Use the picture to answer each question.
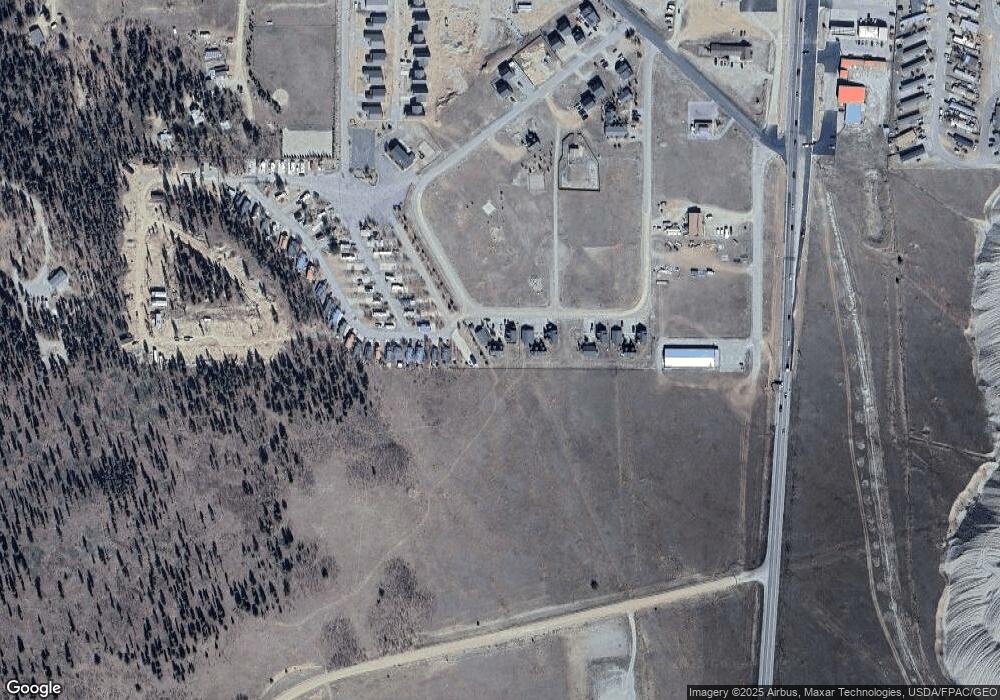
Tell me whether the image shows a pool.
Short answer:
No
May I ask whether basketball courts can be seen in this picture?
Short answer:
No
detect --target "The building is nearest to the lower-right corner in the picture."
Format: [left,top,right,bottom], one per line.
[665,348,720,368]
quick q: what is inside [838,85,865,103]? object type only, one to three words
building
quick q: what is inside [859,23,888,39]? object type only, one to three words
building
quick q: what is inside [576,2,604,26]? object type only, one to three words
house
